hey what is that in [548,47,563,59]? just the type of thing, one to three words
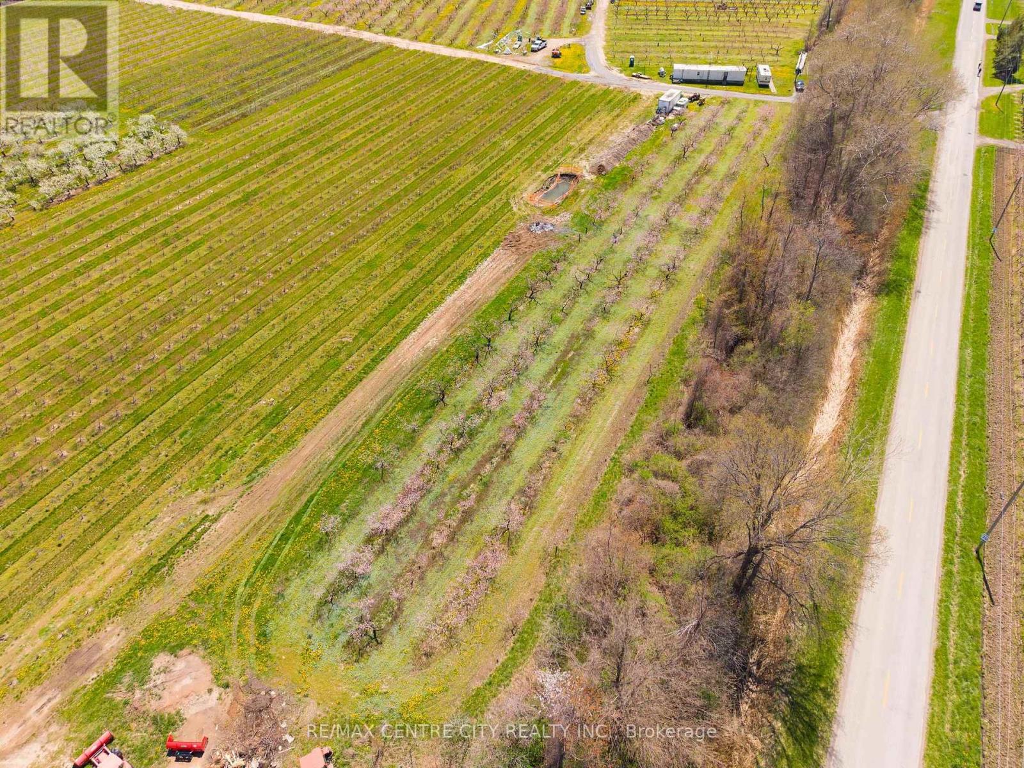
vehicle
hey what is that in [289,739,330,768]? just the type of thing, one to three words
work vehicle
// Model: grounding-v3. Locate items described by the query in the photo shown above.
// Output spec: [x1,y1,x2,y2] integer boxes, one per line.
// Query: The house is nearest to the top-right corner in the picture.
[671,57,746,86]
